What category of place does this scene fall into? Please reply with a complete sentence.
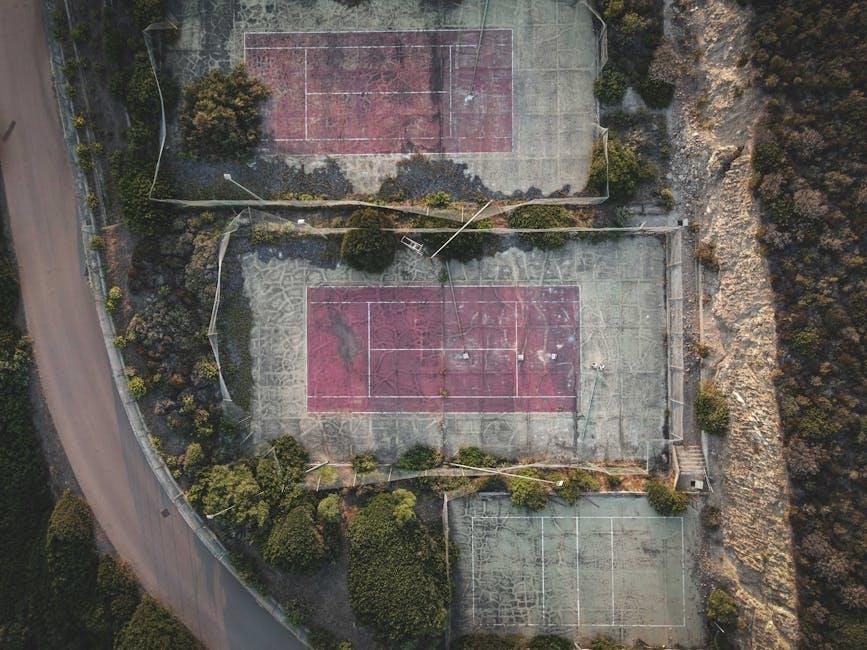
The picture captures a sports ground.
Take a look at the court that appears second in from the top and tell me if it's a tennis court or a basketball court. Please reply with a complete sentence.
In the photo, the court that appears second in from the top shows up as a tennis court.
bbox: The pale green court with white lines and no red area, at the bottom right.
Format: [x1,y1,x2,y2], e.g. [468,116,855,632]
[450,492,703,650]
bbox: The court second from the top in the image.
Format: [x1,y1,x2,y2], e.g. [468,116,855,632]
[218,231,667,468]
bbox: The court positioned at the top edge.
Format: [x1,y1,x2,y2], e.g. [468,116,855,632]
[160,0,601,201]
